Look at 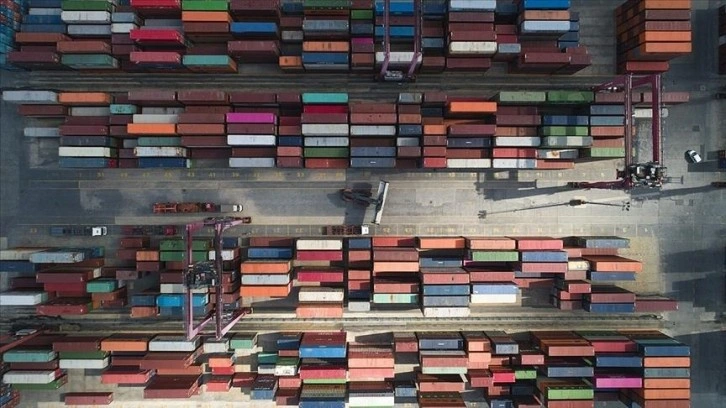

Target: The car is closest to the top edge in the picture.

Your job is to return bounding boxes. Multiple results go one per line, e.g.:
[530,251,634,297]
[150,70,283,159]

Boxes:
[690,150,703,164]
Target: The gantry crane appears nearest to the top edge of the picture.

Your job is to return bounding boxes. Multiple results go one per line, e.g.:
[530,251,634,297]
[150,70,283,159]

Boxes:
[374,0,425,82]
